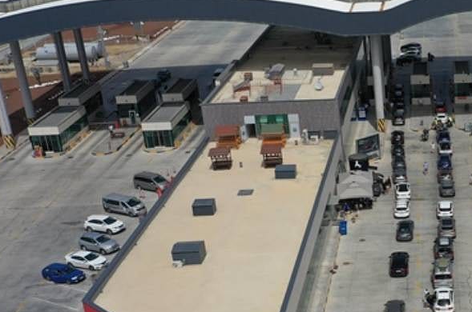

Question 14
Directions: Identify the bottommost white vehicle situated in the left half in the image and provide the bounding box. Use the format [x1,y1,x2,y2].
[65,248,108,269]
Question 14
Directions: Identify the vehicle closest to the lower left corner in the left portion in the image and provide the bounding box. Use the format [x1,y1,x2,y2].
[44,259,86,283]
